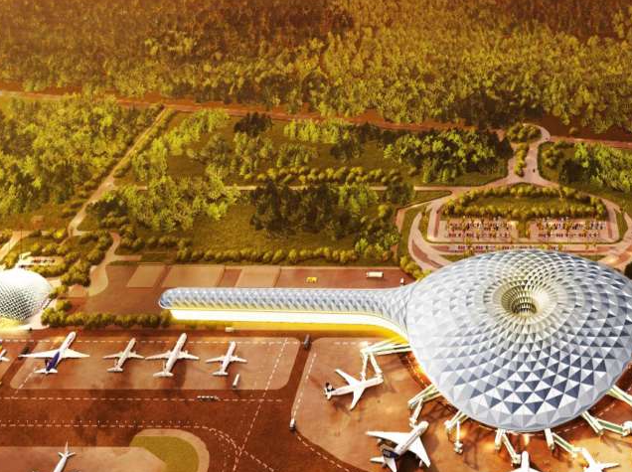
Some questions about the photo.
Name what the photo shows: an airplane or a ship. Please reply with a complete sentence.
The one in the frame is an airplane.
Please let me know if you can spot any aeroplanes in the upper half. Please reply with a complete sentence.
No, there is no aeroplane in the upper half.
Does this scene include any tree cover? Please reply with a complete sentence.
Yes, there is tree cover in the image.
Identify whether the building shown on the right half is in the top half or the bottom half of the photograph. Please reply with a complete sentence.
You can find the building shown on the right half in the bottom half.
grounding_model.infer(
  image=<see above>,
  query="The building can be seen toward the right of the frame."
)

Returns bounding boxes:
[158,249,632,432]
